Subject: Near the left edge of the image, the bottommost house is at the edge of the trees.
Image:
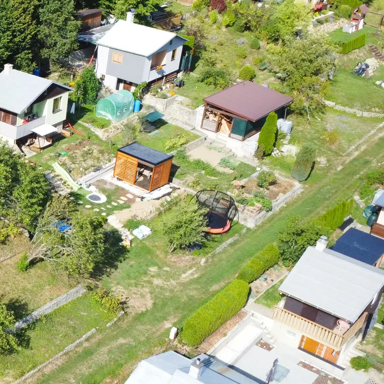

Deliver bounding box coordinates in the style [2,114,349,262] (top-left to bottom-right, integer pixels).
[0,59,75,144]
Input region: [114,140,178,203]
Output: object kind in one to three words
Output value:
building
